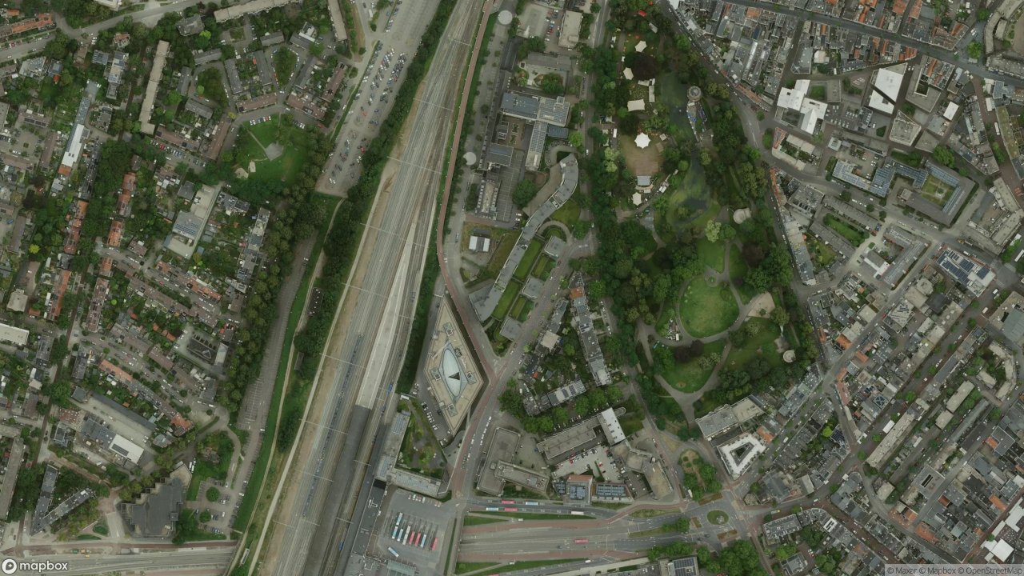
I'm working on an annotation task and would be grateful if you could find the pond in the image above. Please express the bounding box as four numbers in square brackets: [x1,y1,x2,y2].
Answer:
[664,75,709,221]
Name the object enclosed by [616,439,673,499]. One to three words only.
building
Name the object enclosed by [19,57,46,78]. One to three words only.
house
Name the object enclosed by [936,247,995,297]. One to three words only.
building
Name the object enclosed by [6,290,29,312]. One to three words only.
house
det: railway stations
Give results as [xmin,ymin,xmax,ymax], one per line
[344,414,442,576]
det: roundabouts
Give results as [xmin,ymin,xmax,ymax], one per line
[690,490,750,550]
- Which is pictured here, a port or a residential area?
residential area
